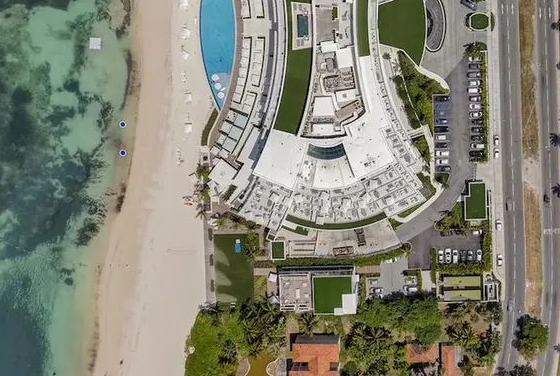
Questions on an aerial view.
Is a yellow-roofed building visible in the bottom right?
Yes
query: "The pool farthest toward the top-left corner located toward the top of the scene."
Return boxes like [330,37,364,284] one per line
[198,0,236,111]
